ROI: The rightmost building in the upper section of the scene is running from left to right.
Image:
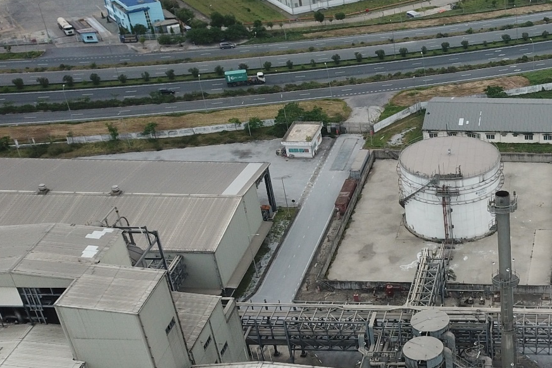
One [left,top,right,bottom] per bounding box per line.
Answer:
[405,103,552,142]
